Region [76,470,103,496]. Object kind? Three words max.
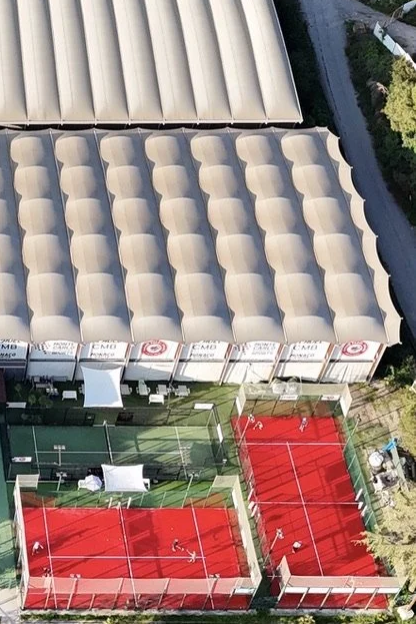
umbrella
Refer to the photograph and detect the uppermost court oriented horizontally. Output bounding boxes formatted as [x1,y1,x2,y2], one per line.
[5,403,231,481]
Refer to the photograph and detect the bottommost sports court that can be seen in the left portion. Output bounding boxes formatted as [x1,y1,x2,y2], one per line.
[14,476,265,619]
